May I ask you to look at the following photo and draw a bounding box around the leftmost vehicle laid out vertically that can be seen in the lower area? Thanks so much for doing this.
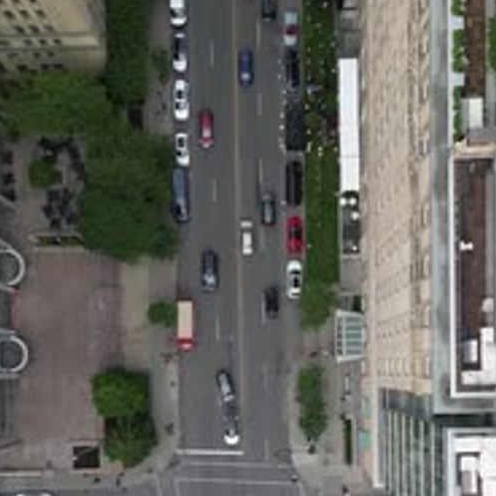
[176,298,197,352]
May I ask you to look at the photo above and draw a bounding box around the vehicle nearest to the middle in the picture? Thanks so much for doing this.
[240,221,255,256]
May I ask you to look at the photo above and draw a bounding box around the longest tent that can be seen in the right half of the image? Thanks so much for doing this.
[336,58,357,199]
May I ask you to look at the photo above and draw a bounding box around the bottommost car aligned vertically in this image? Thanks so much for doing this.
[224,404,240,444]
